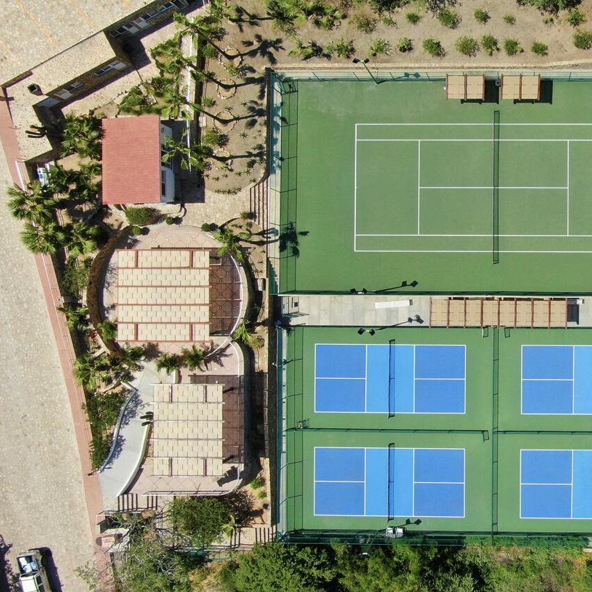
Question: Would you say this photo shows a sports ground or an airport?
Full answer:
The area seen from above is a sports ground.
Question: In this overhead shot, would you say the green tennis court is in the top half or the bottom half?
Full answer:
The green tennis court sits in the top half of the picture.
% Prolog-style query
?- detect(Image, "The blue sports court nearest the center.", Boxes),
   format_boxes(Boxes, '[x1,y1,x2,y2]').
[314,344,466,414]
